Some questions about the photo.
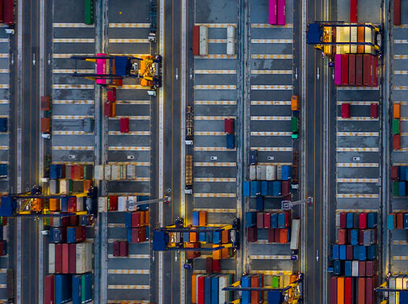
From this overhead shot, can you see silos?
No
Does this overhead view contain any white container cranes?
No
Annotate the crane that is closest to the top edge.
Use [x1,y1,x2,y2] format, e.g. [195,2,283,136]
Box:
[303,22,383,58]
